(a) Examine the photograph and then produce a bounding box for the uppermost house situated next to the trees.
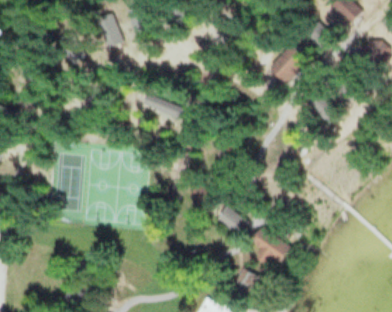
[333,0,363,26]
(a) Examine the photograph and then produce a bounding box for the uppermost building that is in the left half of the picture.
[100,13,126,47]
